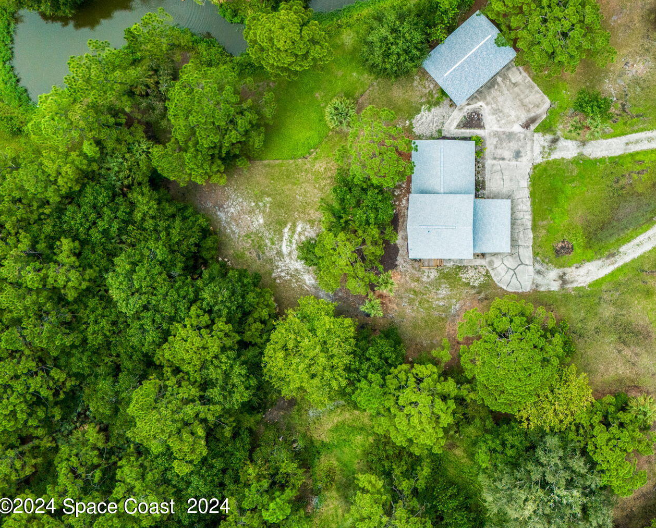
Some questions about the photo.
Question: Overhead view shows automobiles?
No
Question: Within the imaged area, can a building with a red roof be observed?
No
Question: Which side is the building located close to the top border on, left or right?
right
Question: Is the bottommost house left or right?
right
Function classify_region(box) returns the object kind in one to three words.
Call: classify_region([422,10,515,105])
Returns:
building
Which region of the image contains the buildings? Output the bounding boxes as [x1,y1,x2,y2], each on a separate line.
[422,10,515,105]
[407,139,511,259]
